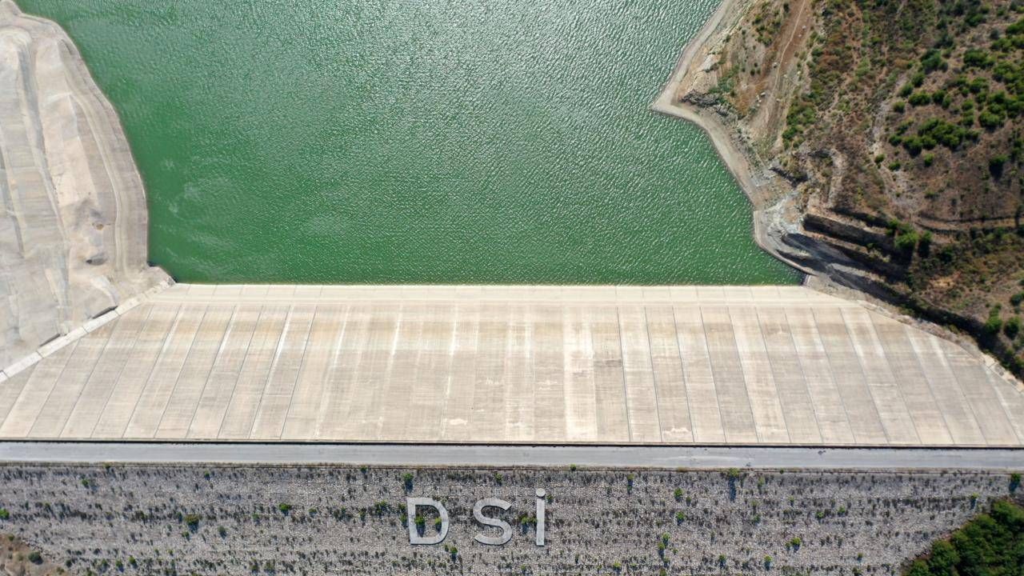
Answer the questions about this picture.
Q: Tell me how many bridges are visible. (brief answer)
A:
0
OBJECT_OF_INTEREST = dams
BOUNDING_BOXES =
[0,269,1024,576]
